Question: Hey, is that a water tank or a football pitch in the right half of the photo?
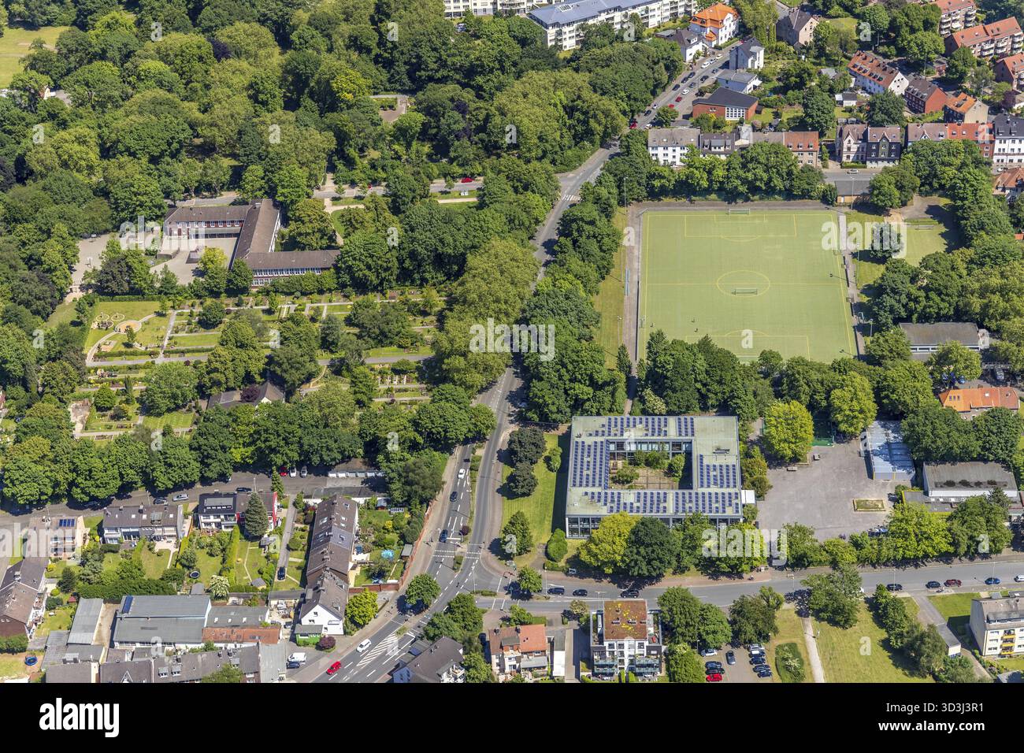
football pitch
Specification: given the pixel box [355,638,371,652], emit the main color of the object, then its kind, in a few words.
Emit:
white vehicle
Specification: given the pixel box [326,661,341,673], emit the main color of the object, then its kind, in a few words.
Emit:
red vehicle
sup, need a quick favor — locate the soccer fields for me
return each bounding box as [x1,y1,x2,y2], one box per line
[633,209,864,370]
